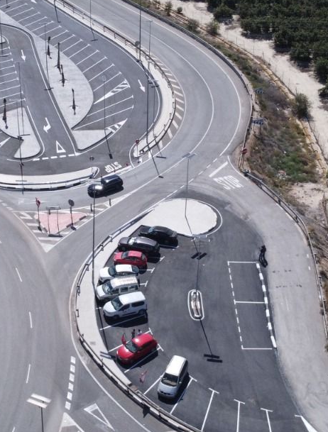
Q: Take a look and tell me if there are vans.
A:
Yes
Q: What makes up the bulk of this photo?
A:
paved ground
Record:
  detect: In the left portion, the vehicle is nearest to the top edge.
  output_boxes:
[86,171,126,196]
